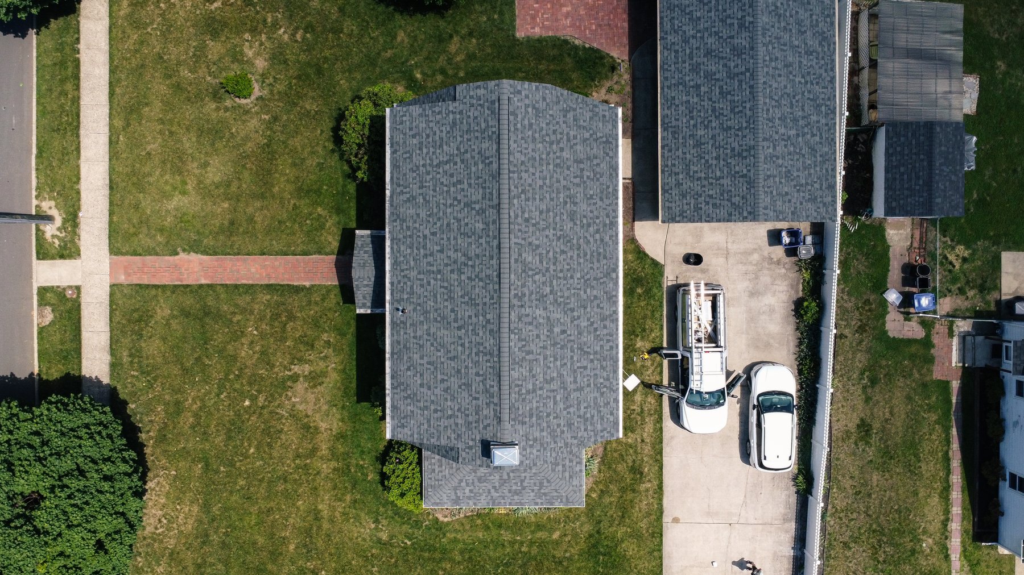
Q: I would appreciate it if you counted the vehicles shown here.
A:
two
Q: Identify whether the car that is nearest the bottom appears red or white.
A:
white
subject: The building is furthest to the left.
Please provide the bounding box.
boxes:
[351,80,622,508]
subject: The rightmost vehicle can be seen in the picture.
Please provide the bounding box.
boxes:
[744,364,801,474]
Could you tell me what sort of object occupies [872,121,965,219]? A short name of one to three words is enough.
shed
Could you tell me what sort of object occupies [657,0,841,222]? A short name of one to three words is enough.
building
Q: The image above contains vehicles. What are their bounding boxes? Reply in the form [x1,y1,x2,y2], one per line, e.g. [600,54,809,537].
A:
[650,283,745,434]
[744,364,801,474]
